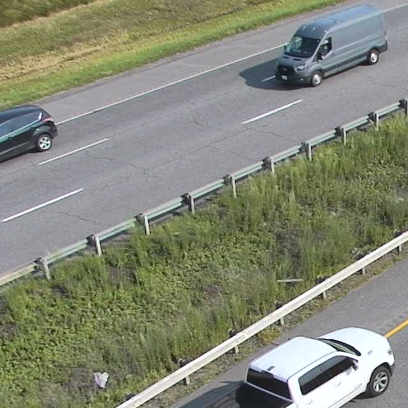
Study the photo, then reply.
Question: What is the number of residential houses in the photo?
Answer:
0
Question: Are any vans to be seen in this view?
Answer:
Yes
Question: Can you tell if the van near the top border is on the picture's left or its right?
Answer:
right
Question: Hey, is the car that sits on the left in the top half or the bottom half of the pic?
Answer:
top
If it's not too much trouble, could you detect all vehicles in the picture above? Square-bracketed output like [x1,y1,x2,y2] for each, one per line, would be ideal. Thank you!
[270,2,389,86]
[201,328,397,408]
[0,103,56,160]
